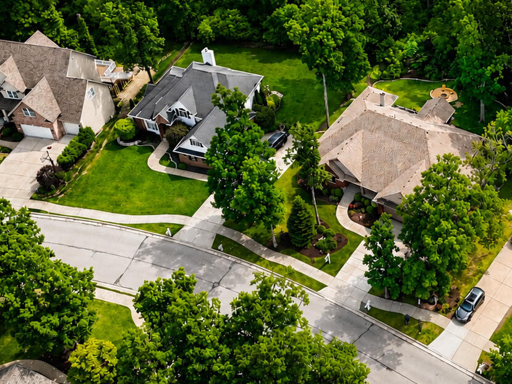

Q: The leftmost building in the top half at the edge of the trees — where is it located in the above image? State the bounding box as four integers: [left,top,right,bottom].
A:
[0,25,120,136]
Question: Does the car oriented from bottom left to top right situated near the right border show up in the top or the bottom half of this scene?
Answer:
bottom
